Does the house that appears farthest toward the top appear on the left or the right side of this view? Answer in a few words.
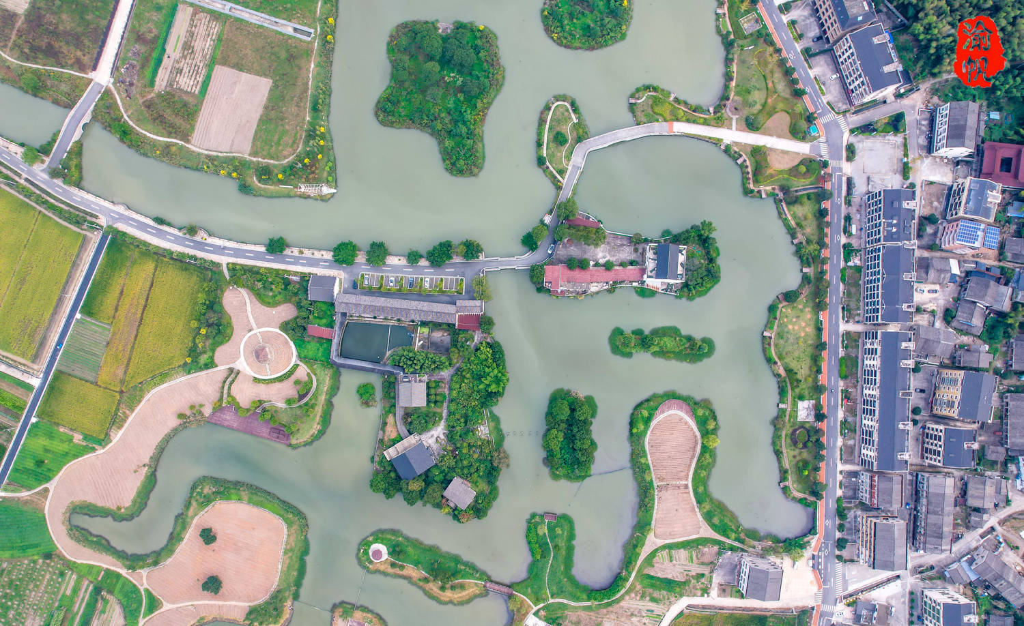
right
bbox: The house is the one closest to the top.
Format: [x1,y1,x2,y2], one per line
[808,0,878,45]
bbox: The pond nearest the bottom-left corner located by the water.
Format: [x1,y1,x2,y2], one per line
[342,322,414,362]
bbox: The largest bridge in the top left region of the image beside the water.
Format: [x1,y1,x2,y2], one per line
[46,79,105,167]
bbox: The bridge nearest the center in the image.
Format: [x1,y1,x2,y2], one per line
[476,252,535,271]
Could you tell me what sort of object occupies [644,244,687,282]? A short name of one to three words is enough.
house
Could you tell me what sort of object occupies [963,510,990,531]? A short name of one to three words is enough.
shed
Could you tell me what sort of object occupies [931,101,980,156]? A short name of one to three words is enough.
house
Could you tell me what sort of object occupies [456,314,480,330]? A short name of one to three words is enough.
building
